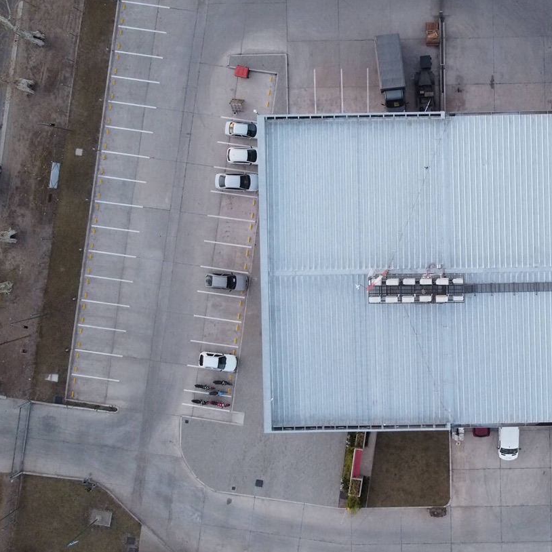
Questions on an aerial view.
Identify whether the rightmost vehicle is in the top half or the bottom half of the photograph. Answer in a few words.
bottom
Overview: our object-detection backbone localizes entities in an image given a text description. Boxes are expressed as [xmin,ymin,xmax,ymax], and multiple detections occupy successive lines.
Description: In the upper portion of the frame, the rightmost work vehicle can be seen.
[412,51,437,111]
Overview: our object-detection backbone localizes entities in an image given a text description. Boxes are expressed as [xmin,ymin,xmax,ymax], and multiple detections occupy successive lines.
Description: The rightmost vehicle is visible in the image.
[499,428,521,461]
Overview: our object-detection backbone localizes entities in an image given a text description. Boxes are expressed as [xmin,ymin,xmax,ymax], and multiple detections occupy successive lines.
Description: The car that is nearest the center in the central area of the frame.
[203,273,247,293]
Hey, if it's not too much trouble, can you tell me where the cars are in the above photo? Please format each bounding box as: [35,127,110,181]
[225,146,257,166]
[197,353,236,374]
[213,172,257,193]
[473,429,492,439]
[203,273,247,293]
[222,120,256,140]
